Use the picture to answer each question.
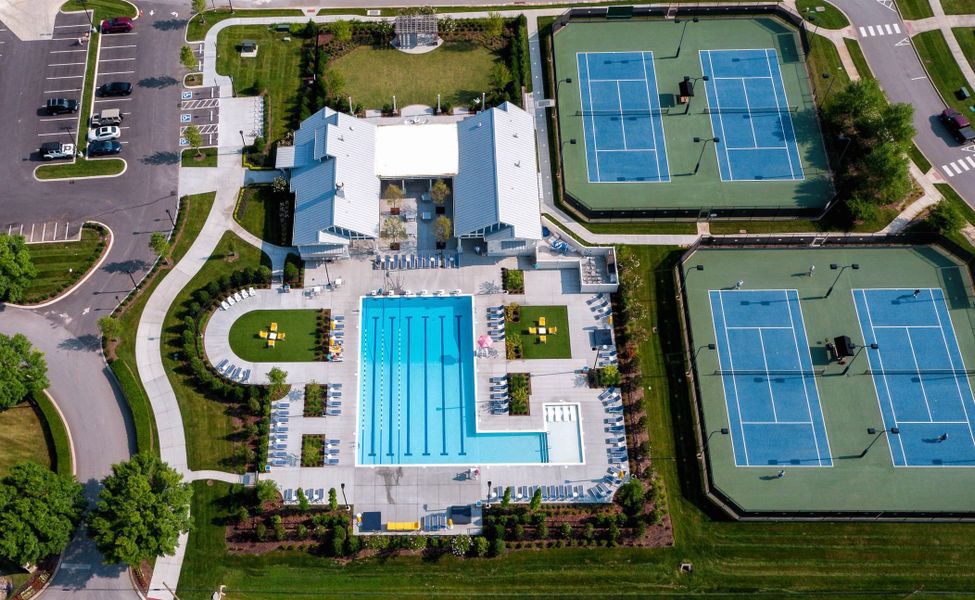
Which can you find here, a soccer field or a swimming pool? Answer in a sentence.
This aerial view contains a swimming pool.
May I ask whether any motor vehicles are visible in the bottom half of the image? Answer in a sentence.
No, I can find no motor vehicle in the bottom half of the image.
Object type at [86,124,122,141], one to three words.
car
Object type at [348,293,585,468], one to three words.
swimming pool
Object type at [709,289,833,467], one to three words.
tennis court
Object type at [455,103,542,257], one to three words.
building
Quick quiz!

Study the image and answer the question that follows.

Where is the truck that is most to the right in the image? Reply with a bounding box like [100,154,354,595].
[942,108,975,144]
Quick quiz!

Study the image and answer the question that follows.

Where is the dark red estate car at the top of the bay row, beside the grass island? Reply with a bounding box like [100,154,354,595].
[99,17,134,34]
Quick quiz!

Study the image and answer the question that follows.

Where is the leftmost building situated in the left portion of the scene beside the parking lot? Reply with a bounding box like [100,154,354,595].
[275,108,383,260]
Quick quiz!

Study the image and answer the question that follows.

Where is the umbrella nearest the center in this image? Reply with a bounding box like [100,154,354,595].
[476,335,493,350]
